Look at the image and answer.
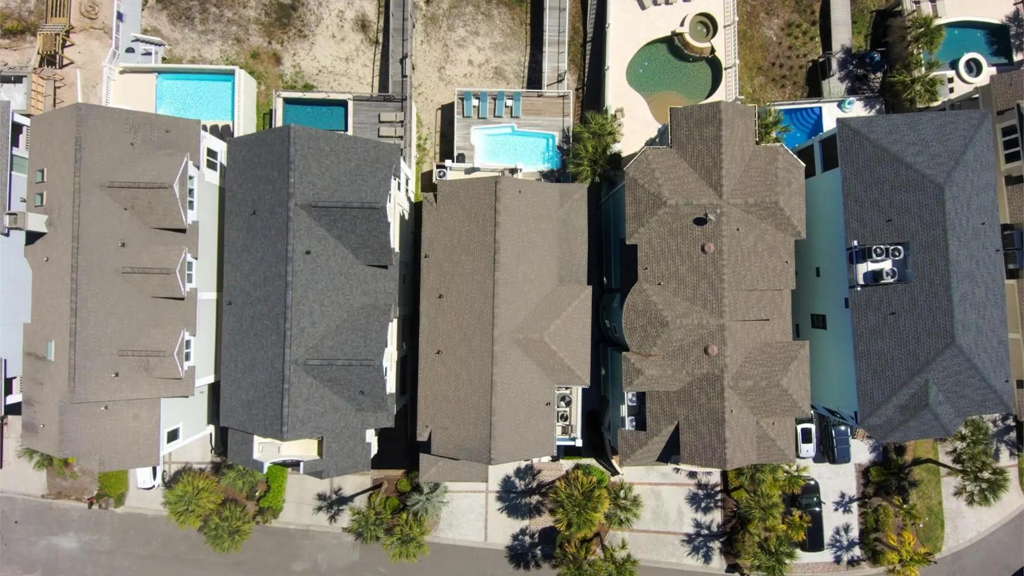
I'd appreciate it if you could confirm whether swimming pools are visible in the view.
Yes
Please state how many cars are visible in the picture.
4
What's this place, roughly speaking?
residential area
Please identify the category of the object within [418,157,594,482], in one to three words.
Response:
house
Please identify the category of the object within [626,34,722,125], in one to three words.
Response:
swimming pool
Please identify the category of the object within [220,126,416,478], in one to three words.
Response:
house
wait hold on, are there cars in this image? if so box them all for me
[143,455,176,487]
[788,474,824,552]
[795,398,818,458]
[820,409,854,463]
